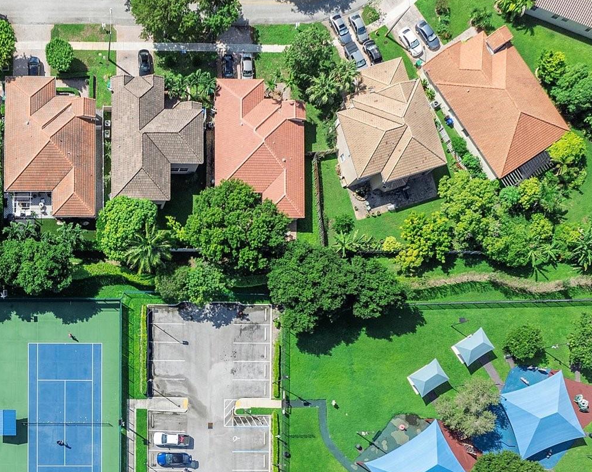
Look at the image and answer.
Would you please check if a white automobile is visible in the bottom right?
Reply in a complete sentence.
No, looking in the bottom right, there is no white automobile.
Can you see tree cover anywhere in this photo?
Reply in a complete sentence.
Yes, tree cover can be seen from above here.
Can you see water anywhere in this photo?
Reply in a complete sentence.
No, there is no water in the image.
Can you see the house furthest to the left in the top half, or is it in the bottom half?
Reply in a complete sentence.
The house furthest to the left sits in the top half of the picture.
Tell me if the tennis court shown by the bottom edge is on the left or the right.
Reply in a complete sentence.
It is on the left.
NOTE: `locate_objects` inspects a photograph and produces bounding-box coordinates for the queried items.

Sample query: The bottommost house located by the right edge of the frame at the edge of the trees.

[419,26,571,181]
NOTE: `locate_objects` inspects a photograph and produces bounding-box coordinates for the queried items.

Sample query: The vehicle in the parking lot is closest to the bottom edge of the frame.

[158,453,195,467]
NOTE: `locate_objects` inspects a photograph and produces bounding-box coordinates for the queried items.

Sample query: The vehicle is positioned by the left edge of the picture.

[27,54,40,76]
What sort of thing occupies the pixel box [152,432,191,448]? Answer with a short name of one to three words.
vehicle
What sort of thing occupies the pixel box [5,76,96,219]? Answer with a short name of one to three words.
house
